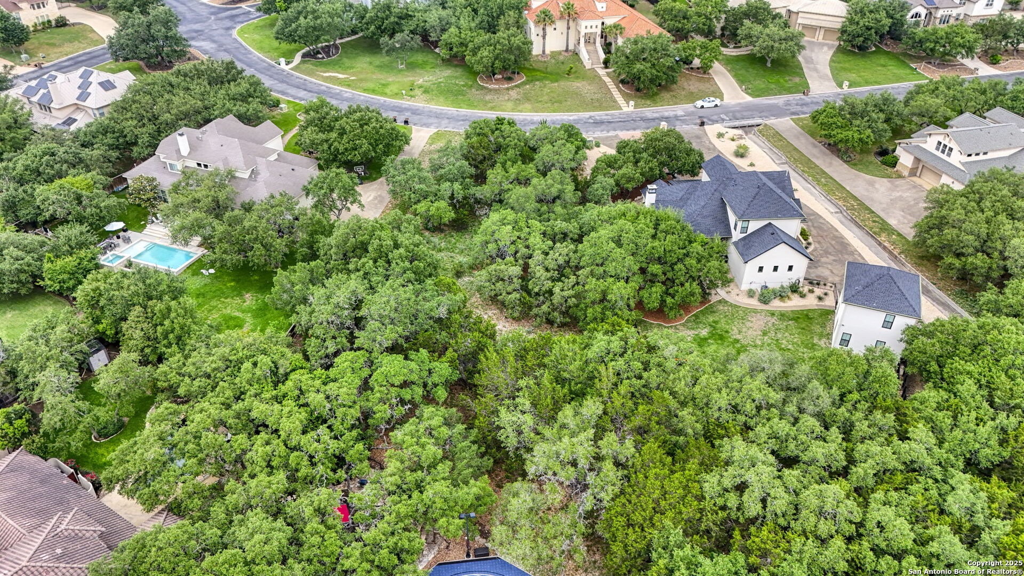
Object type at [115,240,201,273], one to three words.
swimming pool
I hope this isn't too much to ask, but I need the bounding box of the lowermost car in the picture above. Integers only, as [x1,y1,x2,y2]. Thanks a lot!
[695,97,721,109]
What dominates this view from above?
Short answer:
trees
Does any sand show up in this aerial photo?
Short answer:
No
